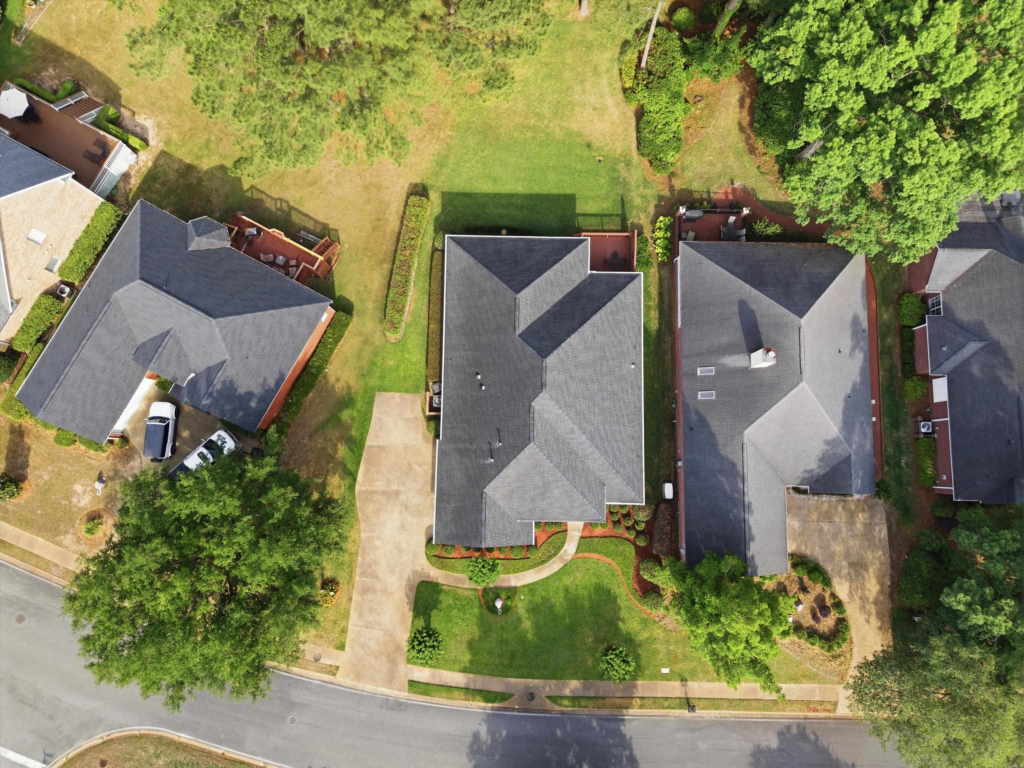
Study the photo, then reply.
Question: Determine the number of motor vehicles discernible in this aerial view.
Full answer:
The count of motor vehicles comes to 2.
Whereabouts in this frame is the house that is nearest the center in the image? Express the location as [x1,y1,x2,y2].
[432,234,645,548]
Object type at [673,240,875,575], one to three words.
house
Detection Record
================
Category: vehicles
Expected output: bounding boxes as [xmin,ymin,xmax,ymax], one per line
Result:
[164,424,241,489]
[144,398,181,460]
